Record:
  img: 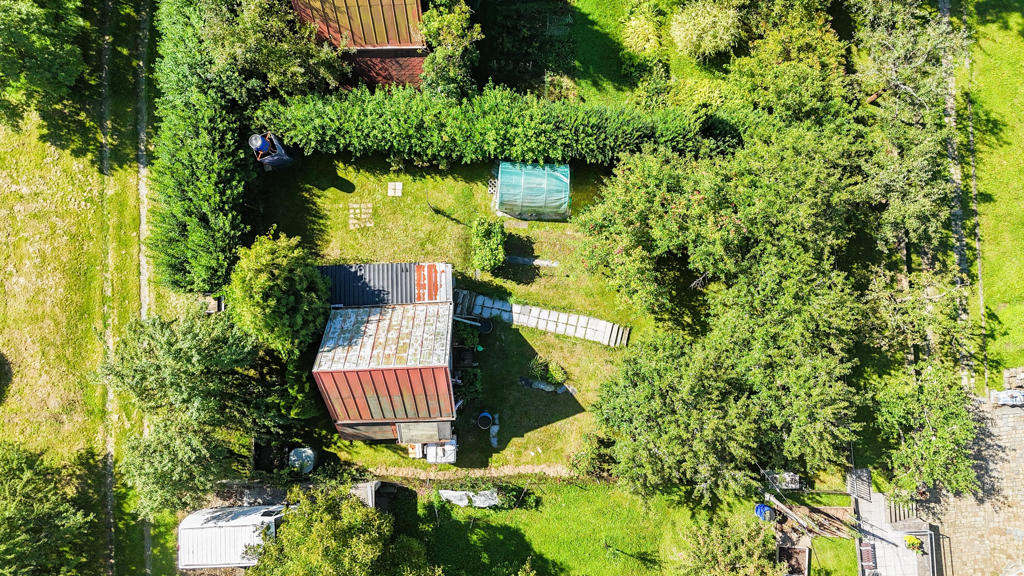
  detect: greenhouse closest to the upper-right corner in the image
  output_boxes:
[496,159,576,226]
